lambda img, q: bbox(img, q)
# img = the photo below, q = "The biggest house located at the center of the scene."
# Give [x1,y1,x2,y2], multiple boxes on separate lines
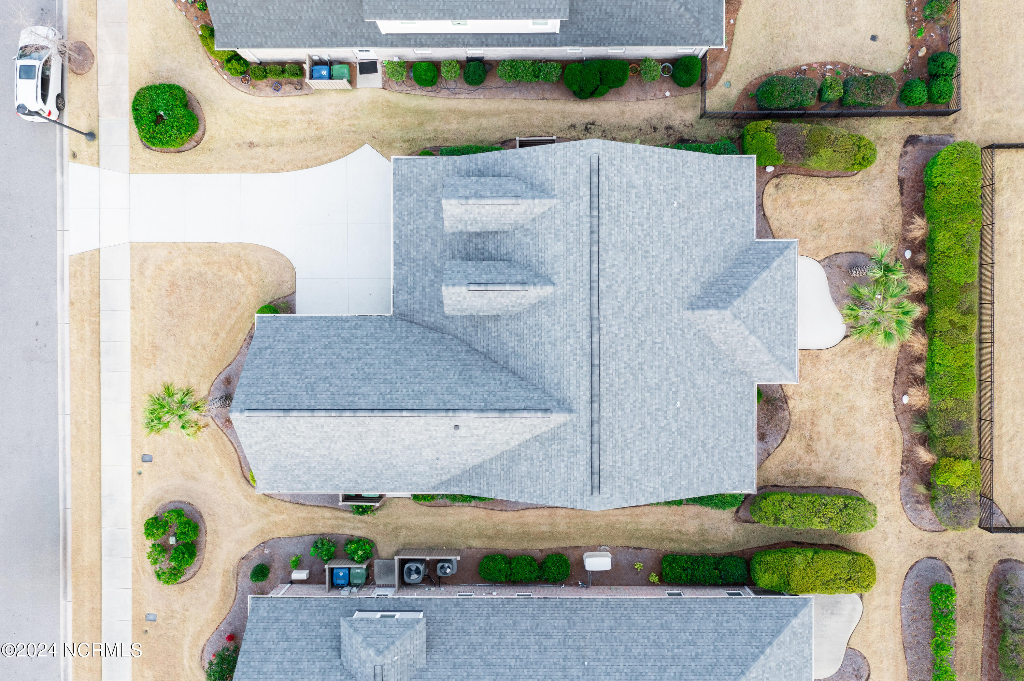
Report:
[231,138,800,511]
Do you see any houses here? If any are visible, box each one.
[231,138,800,511]
[234,549,813,681]
[205,0,725,87]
